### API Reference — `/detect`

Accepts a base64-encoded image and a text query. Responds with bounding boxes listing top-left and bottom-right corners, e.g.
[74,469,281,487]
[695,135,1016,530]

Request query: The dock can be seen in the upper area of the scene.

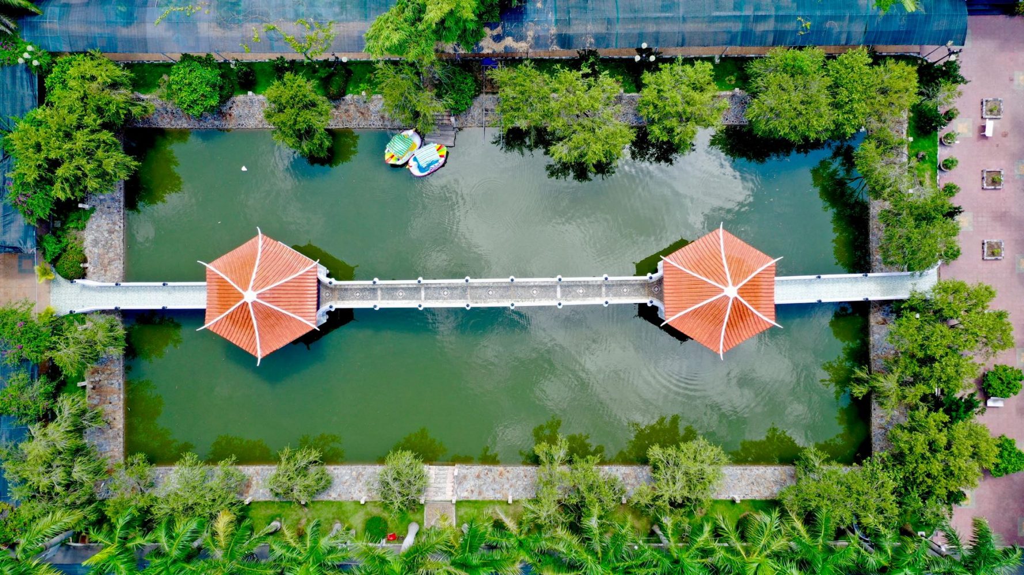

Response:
[425,124,456,148]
